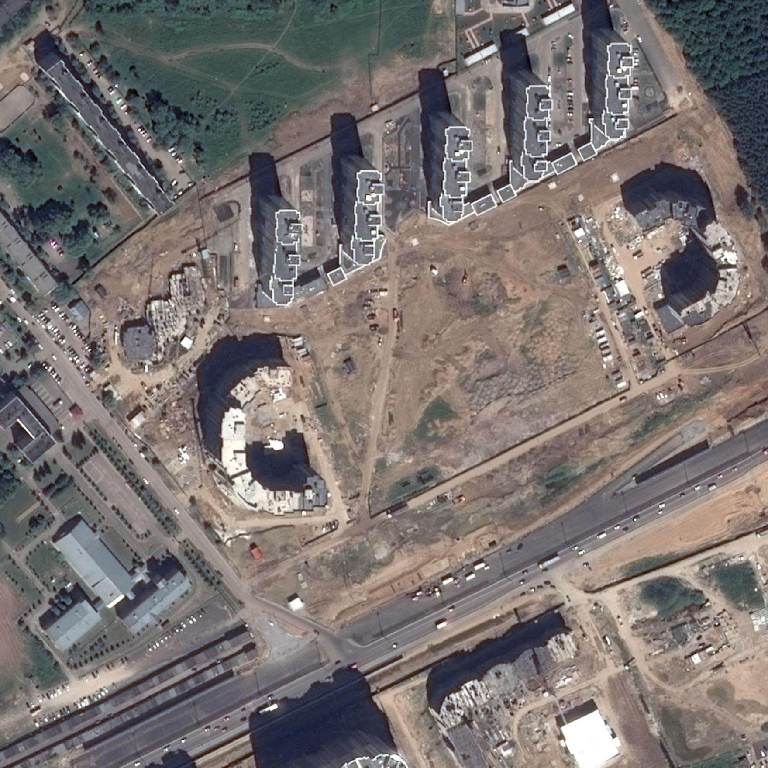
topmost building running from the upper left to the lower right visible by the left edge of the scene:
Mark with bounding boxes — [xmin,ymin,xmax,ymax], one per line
[37,52,174,216]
